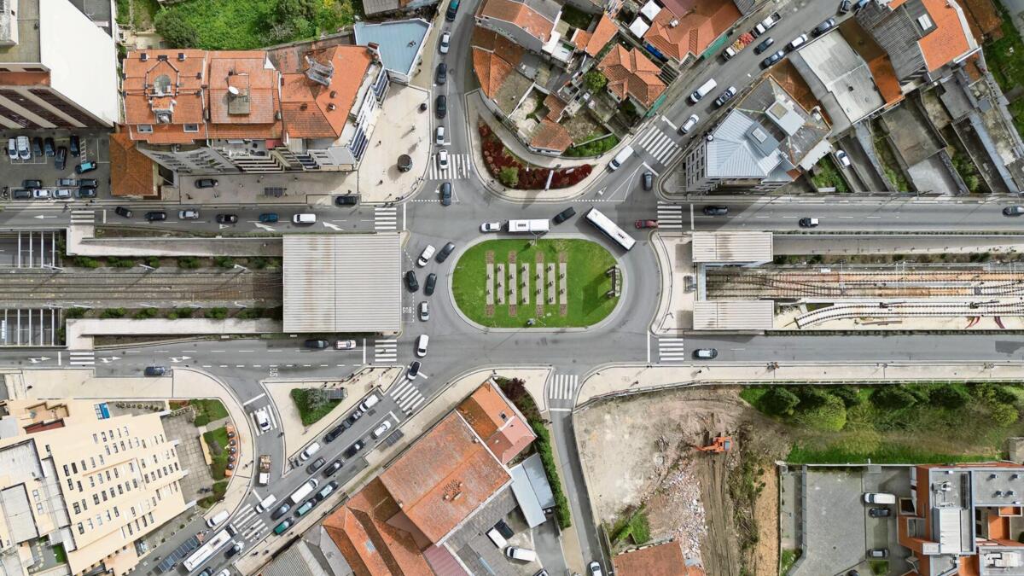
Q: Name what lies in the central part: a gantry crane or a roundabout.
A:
roundabout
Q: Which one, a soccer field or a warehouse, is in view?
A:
warehouse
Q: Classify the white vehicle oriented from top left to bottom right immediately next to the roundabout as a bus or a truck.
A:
bus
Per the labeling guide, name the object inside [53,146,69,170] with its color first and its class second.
black car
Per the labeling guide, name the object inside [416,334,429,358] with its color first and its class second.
white vehicle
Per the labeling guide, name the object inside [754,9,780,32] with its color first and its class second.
white truck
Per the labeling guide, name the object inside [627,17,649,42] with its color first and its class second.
white gazebo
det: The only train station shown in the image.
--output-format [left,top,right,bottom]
[280,233,403,333]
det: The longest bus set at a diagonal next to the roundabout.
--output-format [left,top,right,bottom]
[582,205,638,253]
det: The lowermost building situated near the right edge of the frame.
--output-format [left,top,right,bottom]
[894,463,1024,576]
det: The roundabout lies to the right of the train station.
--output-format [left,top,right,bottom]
[447,233,628,332]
